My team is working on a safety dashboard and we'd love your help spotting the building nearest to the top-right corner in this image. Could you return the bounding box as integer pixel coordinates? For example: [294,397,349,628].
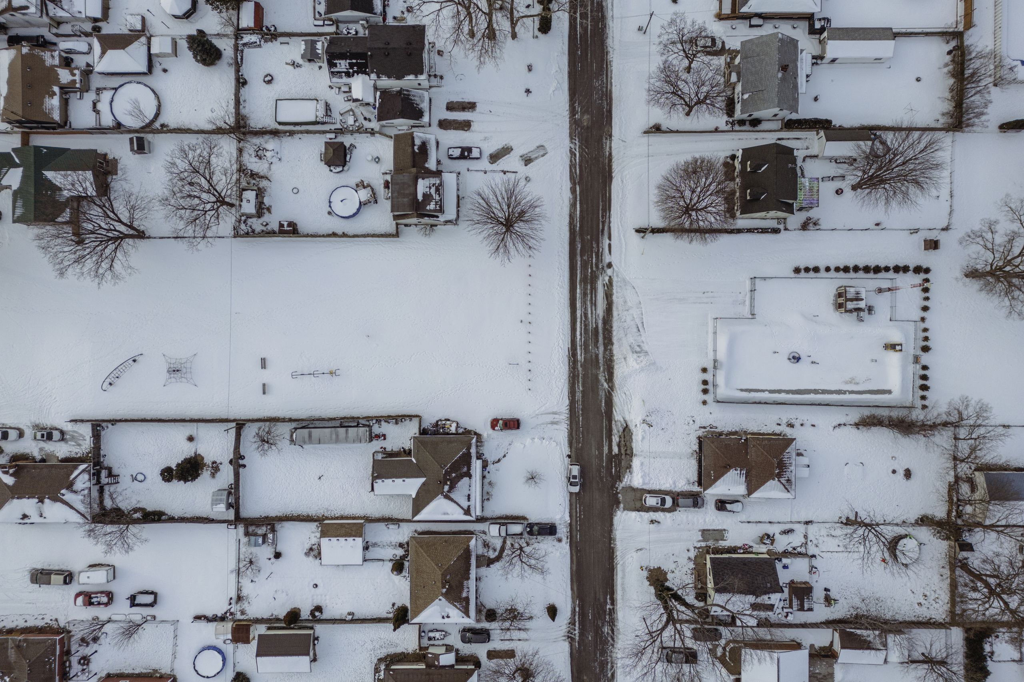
[819,27,898,63]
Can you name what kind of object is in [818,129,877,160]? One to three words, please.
building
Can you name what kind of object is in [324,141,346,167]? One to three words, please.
gazebo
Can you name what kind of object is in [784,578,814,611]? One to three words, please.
shed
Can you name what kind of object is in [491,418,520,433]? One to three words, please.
car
